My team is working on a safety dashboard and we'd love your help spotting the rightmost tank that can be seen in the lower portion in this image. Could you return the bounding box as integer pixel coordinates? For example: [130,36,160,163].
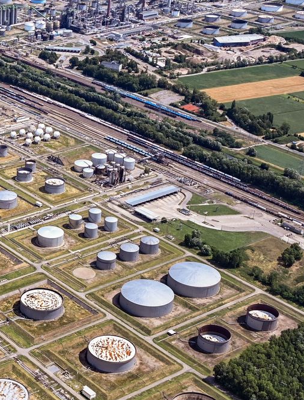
[245,303,285,332]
